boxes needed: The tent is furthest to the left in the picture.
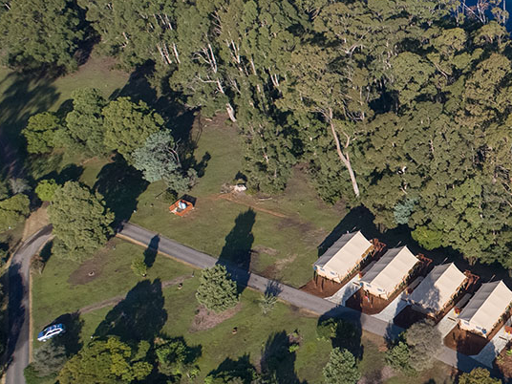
[309,231,384,296]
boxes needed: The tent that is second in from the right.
[403,262,477,331]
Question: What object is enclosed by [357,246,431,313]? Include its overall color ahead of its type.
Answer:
white tent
